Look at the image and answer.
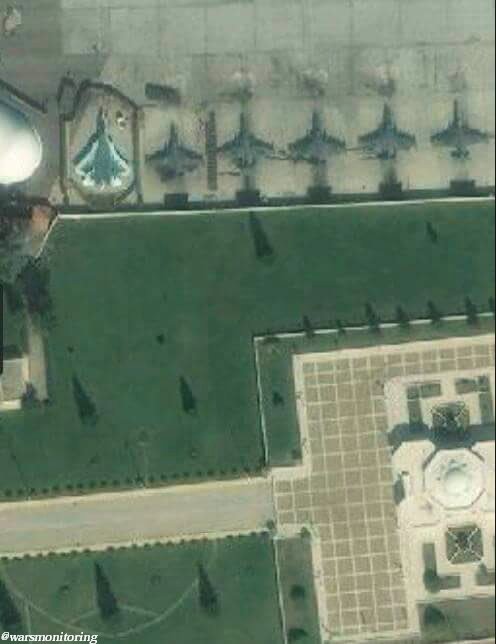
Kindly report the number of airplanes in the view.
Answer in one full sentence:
There are 6 airplanes in the image.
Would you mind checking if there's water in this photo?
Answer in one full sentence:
No, the scene doesn't show any water.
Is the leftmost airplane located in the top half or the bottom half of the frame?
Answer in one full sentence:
Seen from above, the leftmost airplane lies in the top half of the view.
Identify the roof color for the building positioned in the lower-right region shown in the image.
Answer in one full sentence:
The color of the roof on the building positioned in the lower-right region is white.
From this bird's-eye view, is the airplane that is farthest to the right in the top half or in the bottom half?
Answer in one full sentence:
You can find the airplane that is farthest to the right in the top half.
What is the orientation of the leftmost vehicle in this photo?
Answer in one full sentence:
The leftmost vehicle is laid out diagonally.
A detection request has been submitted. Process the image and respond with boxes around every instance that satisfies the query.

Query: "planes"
[218,113,275,169]
[76,112,129,187]
[290,114,348,166]
[146,123,204,182]
[360,108,417,164]
[431,107,490,159]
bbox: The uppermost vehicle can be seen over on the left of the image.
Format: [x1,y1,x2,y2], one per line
[1,8,22,33]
